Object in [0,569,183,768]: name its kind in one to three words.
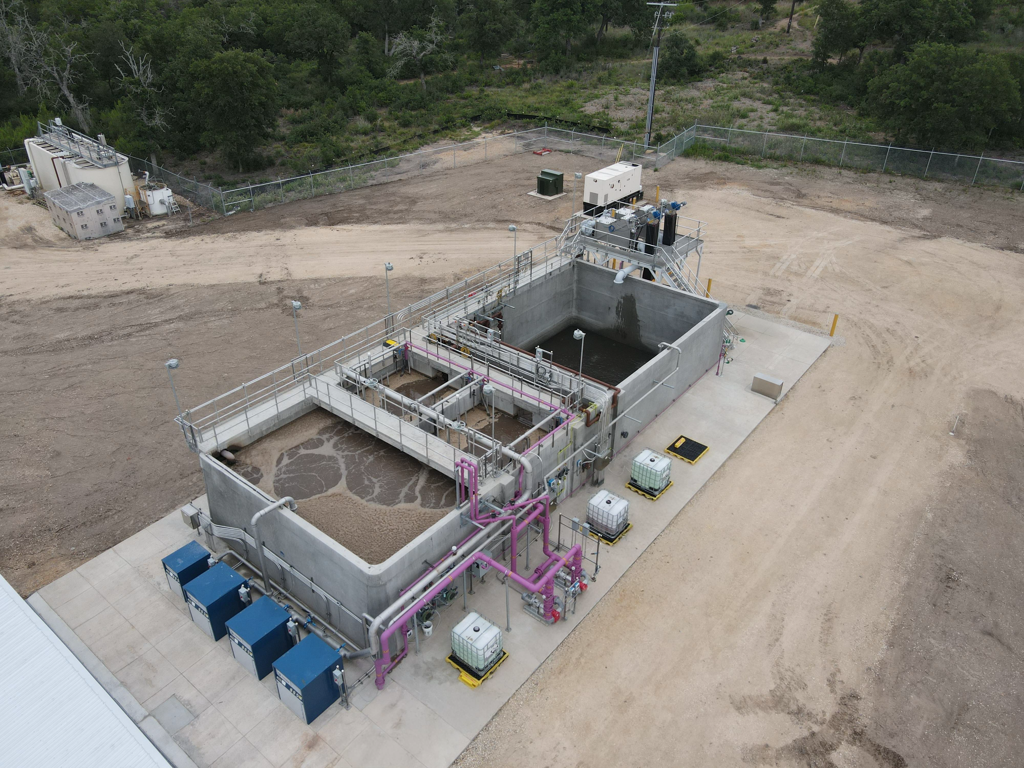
building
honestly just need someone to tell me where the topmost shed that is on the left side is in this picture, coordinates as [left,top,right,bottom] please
[39,182,122,240]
